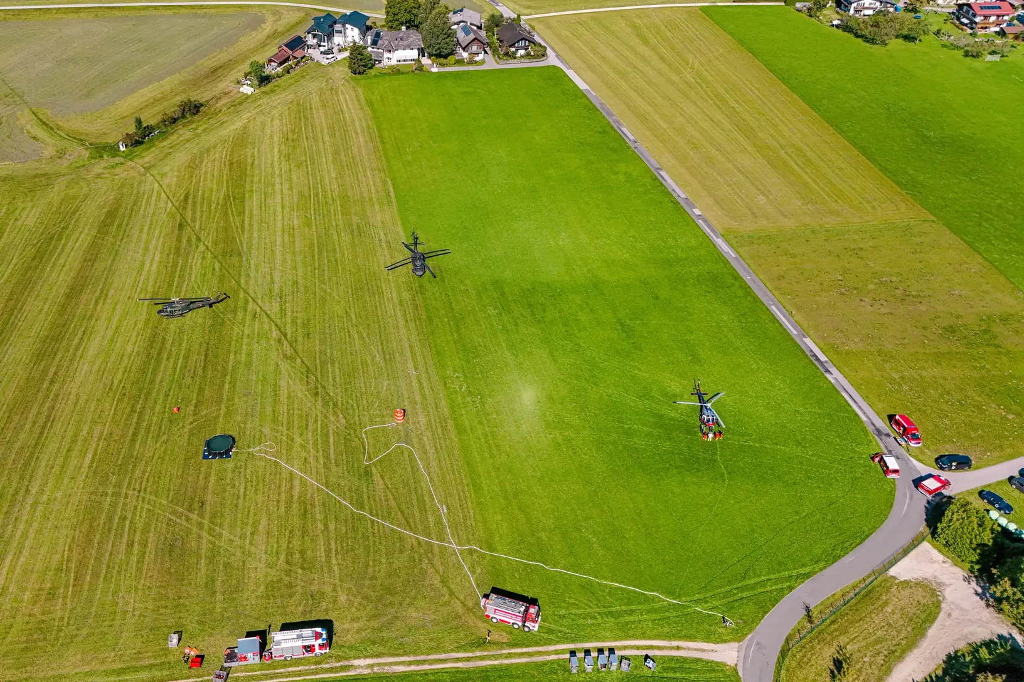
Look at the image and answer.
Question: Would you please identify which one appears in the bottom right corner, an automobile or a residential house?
automobile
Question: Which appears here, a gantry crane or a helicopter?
helicopter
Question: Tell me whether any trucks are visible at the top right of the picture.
No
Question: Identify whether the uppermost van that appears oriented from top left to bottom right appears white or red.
red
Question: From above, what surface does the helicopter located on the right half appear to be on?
grass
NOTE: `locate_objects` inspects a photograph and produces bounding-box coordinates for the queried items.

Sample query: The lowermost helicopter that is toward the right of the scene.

[674,375,726,428]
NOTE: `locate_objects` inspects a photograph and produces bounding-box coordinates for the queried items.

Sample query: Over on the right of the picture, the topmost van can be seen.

[891,414,926,449]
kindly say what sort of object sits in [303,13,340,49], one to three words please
house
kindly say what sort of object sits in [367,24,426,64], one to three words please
house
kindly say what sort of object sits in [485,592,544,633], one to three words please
truck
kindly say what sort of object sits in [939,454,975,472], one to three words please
car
